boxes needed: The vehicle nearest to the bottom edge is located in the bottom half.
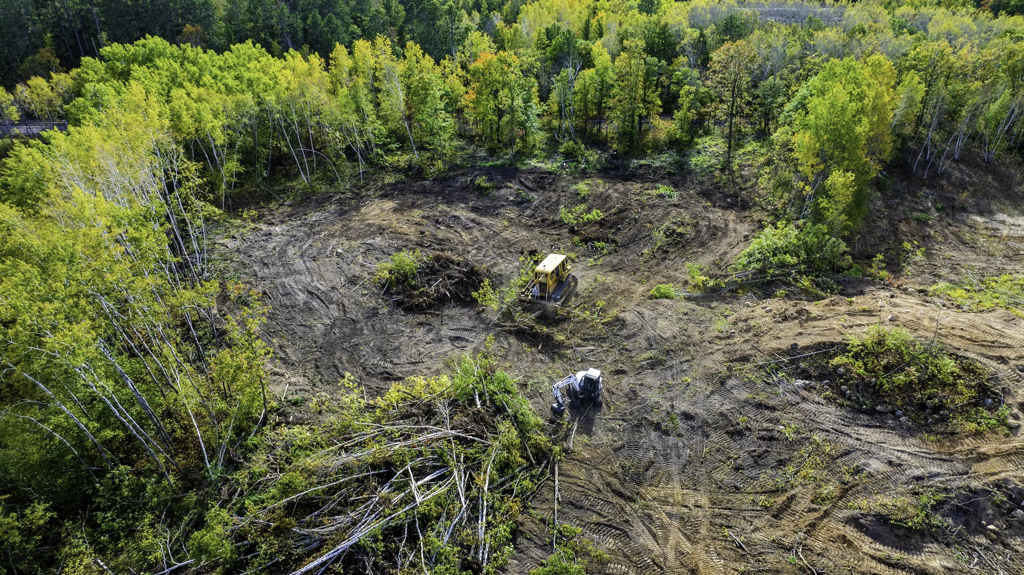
[545,365,607,422]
